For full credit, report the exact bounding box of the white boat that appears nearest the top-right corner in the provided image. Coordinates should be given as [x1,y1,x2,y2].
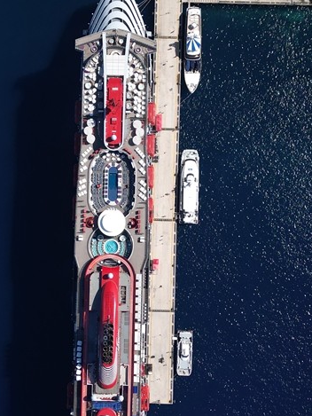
[183,4,202,93]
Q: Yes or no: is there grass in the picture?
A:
No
